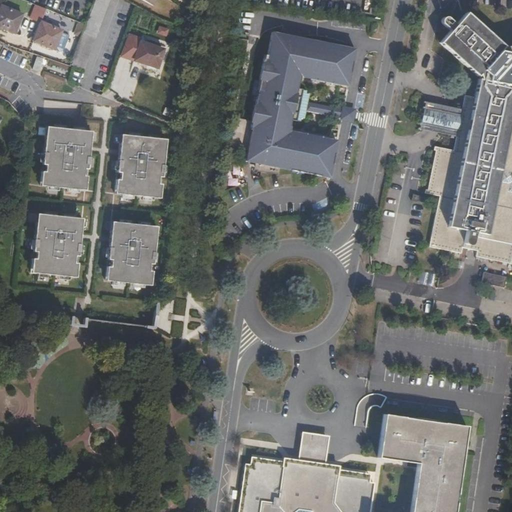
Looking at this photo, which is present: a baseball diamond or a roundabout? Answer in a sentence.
It is a roundabout that can be seen here.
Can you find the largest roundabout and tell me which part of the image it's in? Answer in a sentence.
The largest roundabout sits in the center section of the image.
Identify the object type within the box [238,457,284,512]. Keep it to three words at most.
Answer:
building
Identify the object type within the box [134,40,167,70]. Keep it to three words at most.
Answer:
house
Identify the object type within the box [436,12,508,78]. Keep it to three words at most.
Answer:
building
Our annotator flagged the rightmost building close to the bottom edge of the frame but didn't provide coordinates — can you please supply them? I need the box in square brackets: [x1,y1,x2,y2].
[380,414,472,512]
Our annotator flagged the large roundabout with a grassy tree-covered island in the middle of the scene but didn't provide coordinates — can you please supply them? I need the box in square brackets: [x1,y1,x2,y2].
[234,224,358,386]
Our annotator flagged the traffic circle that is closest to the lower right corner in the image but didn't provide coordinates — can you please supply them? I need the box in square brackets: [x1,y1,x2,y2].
[299,378,339,418]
